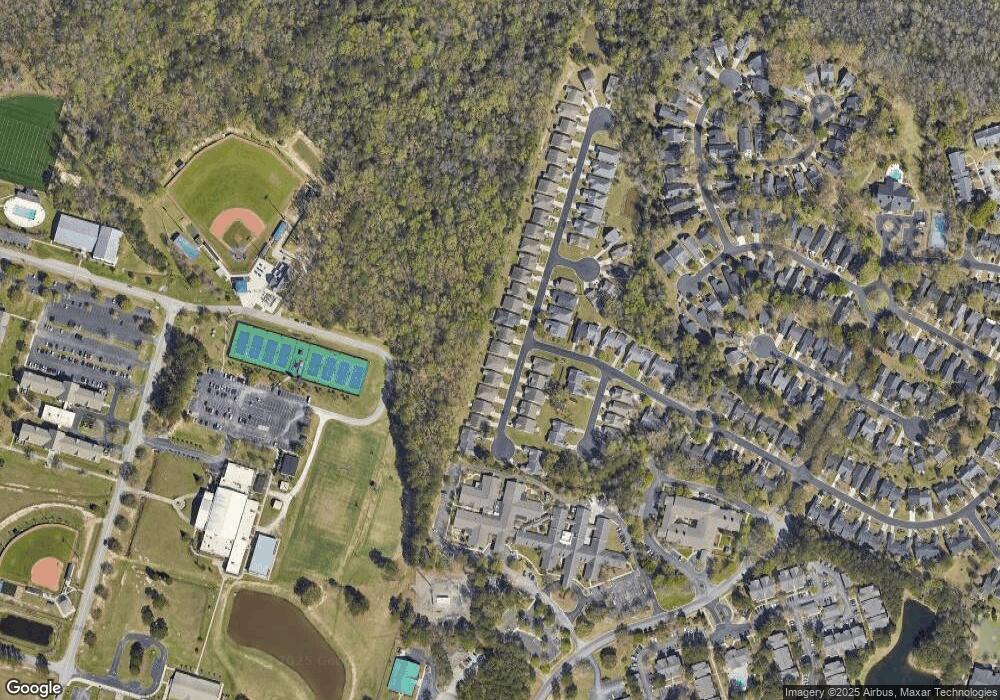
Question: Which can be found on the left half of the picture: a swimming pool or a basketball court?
swimming pool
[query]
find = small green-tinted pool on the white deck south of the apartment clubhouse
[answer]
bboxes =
[728,667,748,691]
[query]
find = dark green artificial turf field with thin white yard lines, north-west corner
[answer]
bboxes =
[0,95,62,190]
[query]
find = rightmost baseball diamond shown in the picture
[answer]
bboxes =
[165,134,305,279]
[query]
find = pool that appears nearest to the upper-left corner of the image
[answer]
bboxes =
[4,198,45,226]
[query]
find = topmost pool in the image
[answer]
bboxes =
[887,164,903,181]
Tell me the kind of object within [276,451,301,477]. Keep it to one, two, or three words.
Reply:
building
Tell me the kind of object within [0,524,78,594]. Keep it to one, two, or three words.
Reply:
baseball field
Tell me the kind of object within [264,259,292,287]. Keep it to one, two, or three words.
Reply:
building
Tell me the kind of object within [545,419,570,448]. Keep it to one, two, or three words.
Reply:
house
